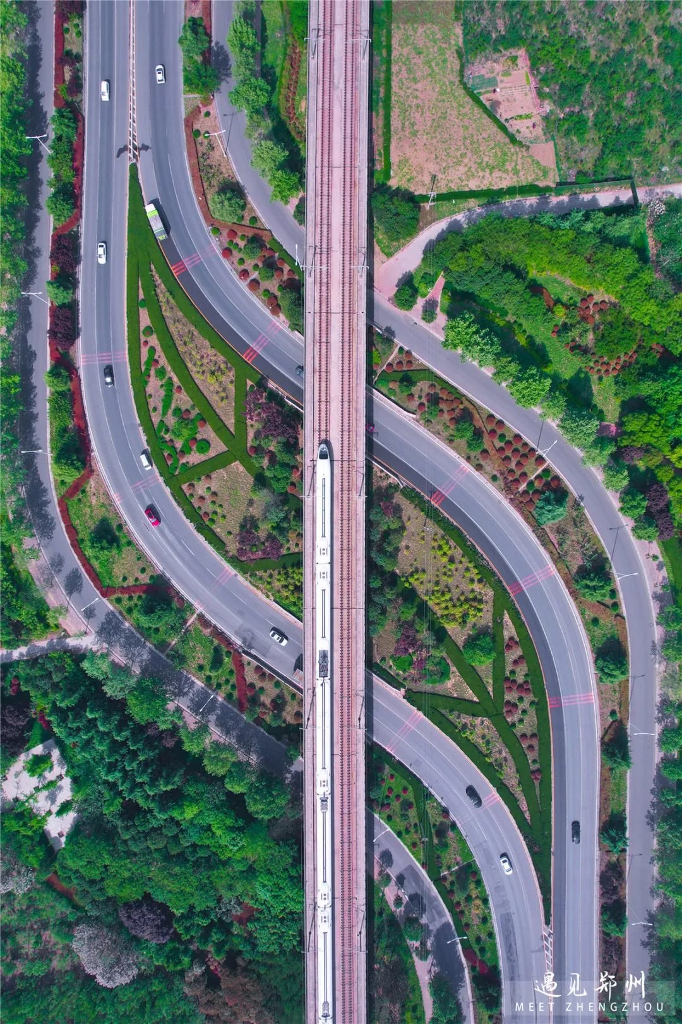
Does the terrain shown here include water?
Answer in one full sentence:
No, water can't be seen anywhere here.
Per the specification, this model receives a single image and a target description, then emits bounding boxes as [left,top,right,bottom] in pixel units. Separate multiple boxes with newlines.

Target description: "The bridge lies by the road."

[303,0,370,1024]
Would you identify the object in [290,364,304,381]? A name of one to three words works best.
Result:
car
